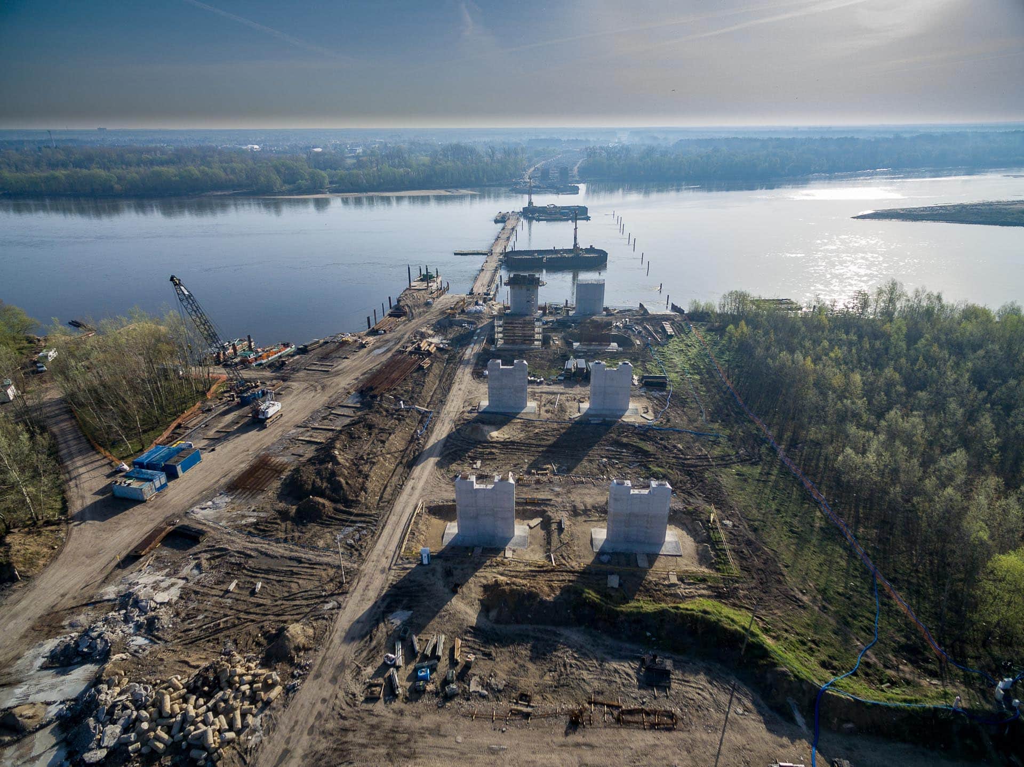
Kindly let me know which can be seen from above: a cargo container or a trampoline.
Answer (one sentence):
Looking from above, you can make out a cargo container.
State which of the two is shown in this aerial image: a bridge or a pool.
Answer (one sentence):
Of the two, only a bridge appears.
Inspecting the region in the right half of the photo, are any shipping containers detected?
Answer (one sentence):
No, looking in the right half of the photo, there is no shipping container.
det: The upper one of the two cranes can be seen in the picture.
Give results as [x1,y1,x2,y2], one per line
[168,273,262,397]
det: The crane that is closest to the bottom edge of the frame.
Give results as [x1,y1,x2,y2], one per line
[245,384,287,427]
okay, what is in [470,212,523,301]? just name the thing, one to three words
bridge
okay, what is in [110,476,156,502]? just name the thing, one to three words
shipping container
